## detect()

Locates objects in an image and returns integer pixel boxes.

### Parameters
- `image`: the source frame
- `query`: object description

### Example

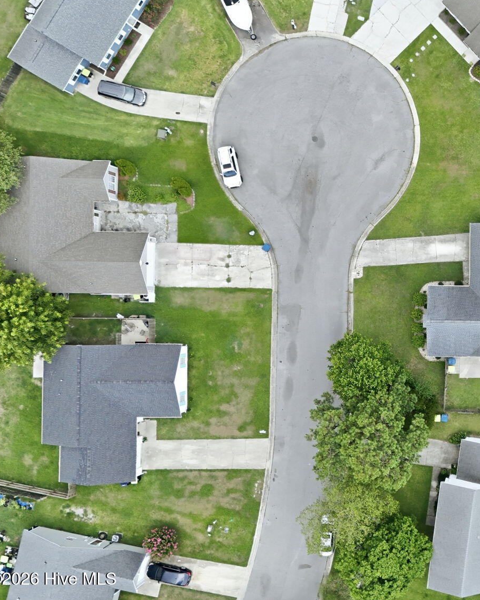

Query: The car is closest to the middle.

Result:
[218,144,243,189]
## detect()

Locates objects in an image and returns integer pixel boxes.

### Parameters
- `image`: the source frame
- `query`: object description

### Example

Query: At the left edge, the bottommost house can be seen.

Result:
[8,526,151,600]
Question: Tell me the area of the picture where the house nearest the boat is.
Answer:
top left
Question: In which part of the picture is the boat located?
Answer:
top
